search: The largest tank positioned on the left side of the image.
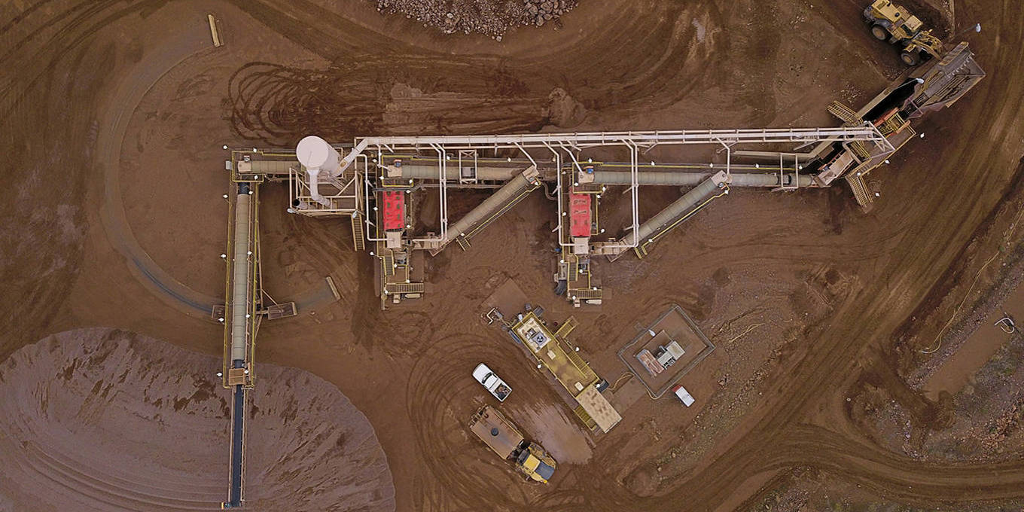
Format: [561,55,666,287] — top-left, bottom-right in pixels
[288,136,367,250]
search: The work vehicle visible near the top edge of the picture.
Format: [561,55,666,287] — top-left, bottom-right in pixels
[862,0,974,75]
